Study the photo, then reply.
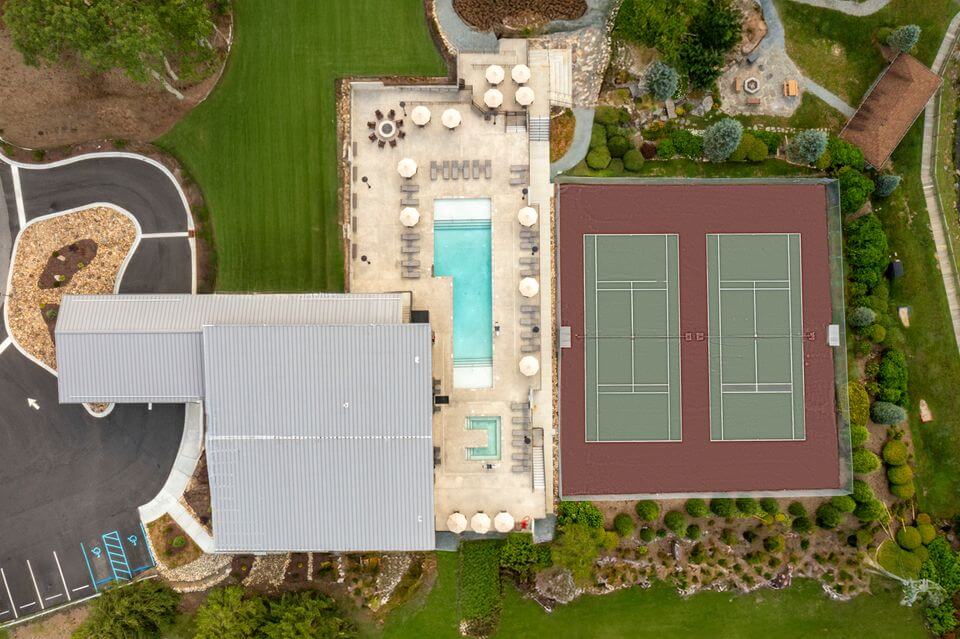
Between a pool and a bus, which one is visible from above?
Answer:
pool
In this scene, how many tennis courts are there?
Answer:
2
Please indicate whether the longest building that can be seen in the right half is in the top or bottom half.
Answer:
top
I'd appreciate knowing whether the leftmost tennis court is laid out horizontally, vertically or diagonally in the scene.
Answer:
vertically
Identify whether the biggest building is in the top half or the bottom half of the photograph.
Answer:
bottom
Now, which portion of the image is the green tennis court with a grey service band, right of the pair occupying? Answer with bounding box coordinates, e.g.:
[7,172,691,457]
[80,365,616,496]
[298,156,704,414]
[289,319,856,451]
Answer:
[706,234,805,440]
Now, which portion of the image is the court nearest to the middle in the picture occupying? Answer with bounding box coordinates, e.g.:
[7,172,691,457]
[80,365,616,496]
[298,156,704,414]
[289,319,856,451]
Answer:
[584,234,682,441]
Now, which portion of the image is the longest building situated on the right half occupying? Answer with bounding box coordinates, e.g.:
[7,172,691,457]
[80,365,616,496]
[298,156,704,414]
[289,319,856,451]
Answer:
[835,52,943,170]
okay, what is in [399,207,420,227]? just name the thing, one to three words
umbrella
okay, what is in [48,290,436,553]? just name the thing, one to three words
building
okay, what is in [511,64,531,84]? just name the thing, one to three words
umbrella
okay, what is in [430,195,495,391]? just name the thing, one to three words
swimming pool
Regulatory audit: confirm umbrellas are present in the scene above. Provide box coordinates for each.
[442,110,460,128]
[483,88,503,109]
[519,277,539,297]
[447,513,467,533]
[511,64,531,84]
[486,65,504,84]
[494,512,514,531]
[399,207,420,227]
[518,206,537,226]
[398,157,417,178]
[515,86,535,107]
[471,513,490,533]
[411,106,431,126]
[519,356,539,376]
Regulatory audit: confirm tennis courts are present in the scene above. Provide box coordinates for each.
[584,234,682,441]
[706,234,805,440]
